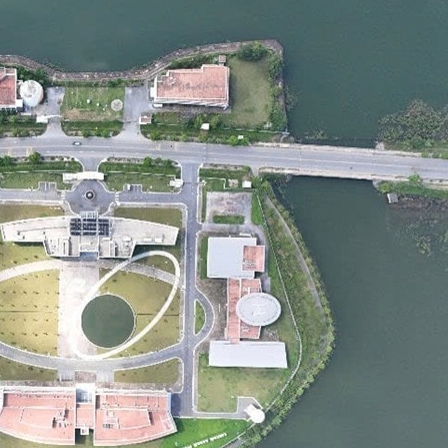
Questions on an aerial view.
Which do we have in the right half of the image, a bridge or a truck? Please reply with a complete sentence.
Looking in the right half of the image, you will find a bridge.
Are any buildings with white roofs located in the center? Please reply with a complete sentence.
Yes, you'll find a building with a white roof in the center.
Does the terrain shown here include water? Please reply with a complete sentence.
Yes, there is water in the image.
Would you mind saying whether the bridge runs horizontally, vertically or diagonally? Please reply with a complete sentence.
The bridge has been laid out horizontally relative to the frame.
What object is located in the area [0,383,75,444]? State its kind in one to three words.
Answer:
building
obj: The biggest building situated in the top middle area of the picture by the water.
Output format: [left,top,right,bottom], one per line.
[149,65,228,113]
